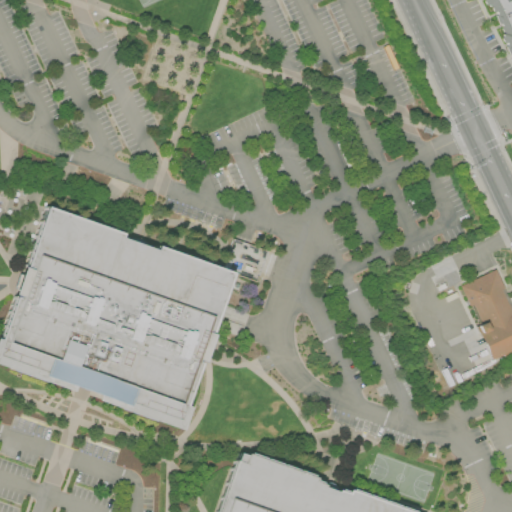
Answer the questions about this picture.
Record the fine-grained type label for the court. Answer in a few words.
basketball court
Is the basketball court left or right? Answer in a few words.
right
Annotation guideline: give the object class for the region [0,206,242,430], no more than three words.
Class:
building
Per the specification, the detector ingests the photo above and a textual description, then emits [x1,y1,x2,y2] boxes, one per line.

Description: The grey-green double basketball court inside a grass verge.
[370,454,434,502]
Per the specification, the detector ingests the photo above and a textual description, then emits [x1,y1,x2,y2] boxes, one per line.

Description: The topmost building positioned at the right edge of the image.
[461,270,512,358]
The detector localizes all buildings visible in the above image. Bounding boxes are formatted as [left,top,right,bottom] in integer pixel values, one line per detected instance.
[461,270,512,358]
[0,206,242,430]
[216,452,426,512]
